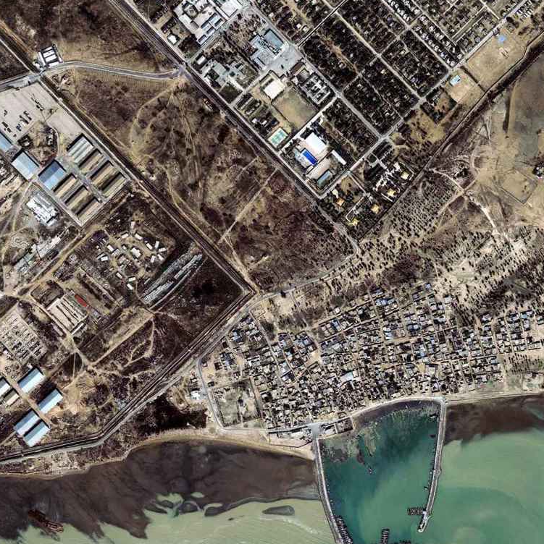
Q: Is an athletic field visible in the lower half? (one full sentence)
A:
No, there is no athletic field in the lower half.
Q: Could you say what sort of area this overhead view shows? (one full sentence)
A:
This image shows a residential area.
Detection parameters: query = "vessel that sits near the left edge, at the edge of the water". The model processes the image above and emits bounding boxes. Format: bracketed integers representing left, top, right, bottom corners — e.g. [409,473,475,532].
[27,511,63,530]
